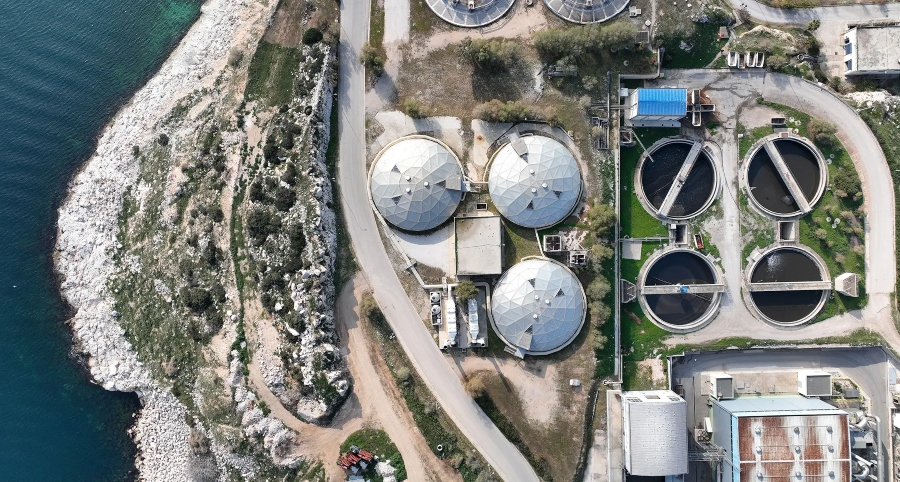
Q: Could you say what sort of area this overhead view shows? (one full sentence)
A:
It's an industrial area.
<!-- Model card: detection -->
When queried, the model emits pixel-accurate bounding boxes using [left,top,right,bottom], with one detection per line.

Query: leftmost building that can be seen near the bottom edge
[621,392,690,482]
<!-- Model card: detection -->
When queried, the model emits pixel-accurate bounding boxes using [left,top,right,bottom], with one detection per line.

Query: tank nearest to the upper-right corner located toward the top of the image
[740,134,828,221]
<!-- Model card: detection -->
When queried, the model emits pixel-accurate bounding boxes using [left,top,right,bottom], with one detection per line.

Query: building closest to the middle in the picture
[456,218,502,275]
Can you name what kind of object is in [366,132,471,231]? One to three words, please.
storage tank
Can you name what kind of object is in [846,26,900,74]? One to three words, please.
building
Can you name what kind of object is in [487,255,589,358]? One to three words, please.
storage tank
